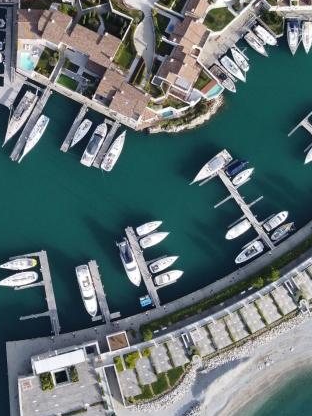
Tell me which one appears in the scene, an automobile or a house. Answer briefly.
house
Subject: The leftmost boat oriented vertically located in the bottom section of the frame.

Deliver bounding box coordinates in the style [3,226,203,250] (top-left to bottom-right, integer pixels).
[76,262,97,318]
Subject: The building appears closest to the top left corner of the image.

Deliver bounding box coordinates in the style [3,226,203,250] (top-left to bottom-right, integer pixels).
[16,8,46,43]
